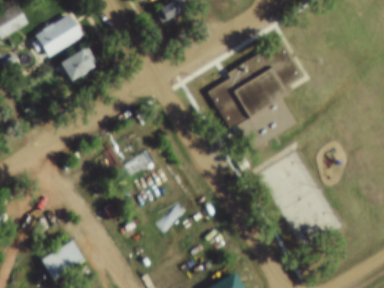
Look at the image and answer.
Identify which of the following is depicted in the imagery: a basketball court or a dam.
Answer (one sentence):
There is a basketball court in the scene.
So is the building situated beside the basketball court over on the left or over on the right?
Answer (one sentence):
The building situated beside the basketball court sits on the right side.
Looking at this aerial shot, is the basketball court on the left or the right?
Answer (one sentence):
It is on the right.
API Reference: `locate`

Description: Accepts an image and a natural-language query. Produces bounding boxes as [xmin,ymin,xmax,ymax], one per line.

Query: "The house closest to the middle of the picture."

[124,152,154,178]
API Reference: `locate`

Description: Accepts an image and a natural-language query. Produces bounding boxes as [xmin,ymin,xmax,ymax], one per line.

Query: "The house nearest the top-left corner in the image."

[0,6,26,39]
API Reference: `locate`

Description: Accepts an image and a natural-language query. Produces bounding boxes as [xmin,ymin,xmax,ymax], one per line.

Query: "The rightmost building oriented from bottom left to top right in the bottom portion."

[156,204,186,234]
